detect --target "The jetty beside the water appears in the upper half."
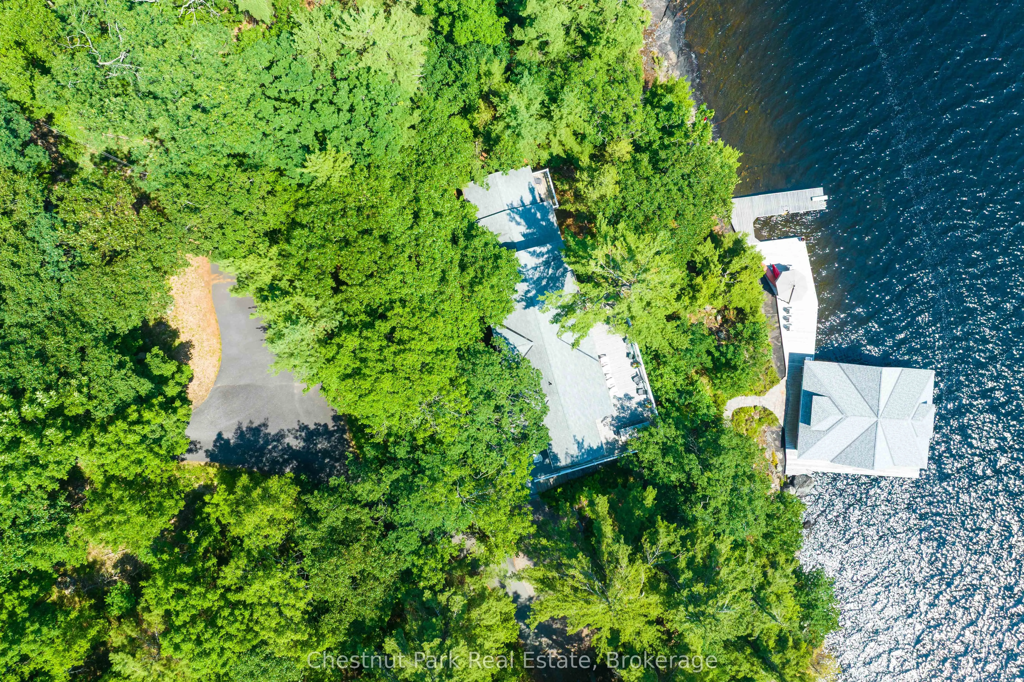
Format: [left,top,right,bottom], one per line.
[732,187,826,243]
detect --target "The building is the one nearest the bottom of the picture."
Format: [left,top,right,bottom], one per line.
[792,360,936,470]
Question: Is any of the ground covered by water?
Yes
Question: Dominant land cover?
trees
